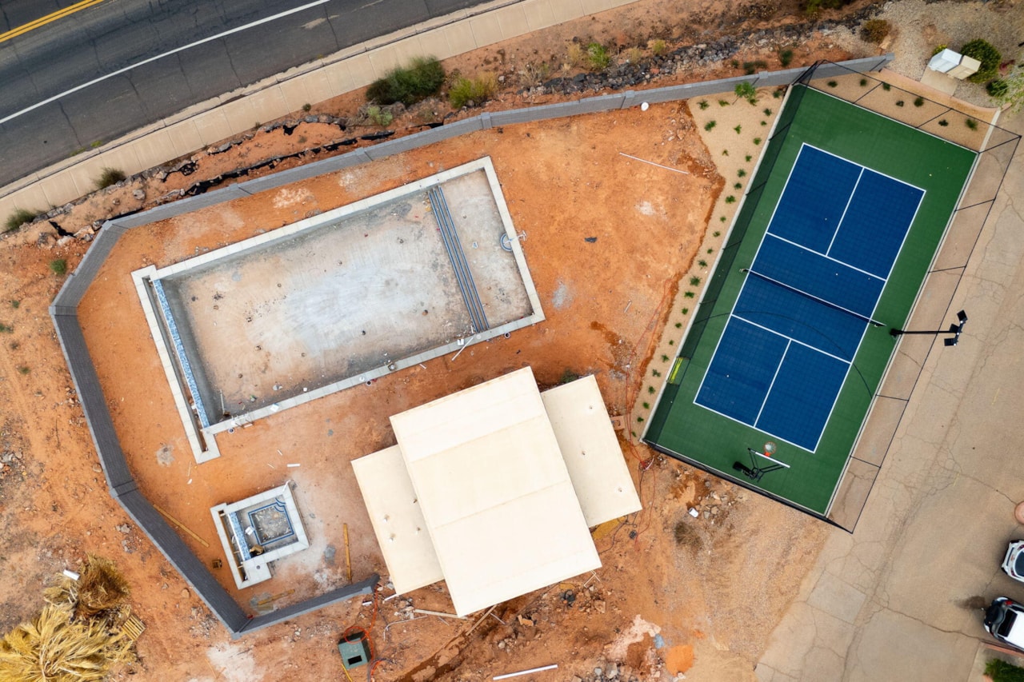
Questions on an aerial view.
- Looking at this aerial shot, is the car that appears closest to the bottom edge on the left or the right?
right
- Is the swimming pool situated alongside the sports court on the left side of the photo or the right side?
left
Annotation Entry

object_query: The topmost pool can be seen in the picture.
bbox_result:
[131,156,545,464]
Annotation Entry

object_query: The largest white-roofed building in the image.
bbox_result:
[351,366,642,618]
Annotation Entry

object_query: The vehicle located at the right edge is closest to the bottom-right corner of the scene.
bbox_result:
[978,593,1024,650]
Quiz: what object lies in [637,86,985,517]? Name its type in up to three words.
sports court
